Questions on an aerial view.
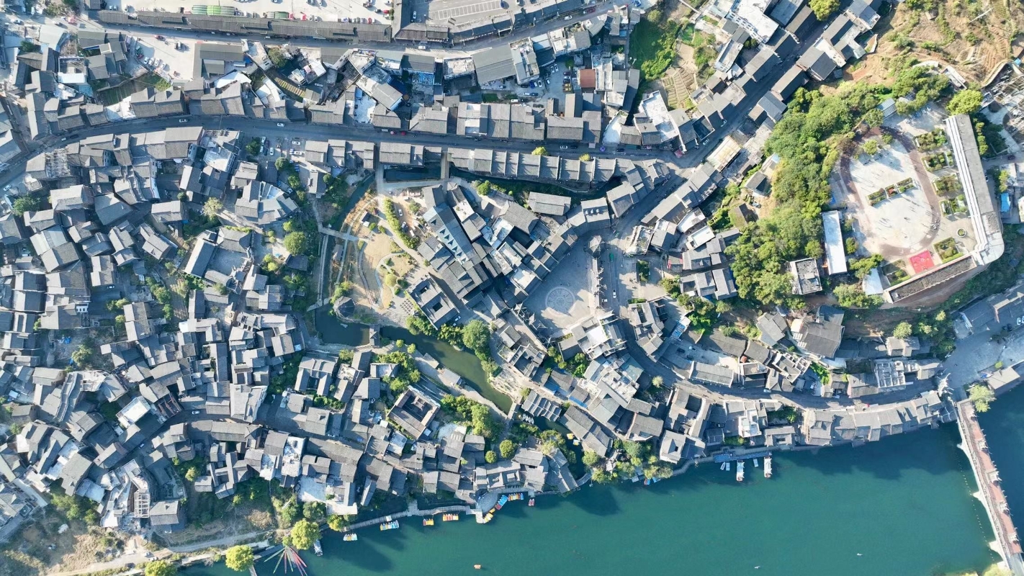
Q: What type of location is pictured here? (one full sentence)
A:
This looks like a residential area.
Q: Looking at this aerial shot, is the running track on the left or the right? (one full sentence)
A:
You can find the running track on the right side of the picture.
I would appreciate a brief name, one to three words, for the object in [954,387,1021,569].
bridge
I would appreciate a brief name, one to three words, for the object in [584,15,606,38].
house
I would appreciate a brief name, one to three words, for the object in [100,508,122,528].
building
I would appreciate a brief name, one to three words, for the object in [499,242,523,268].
building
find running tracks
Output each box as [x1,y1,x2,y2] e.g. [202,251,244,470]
[841,127,939,255]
